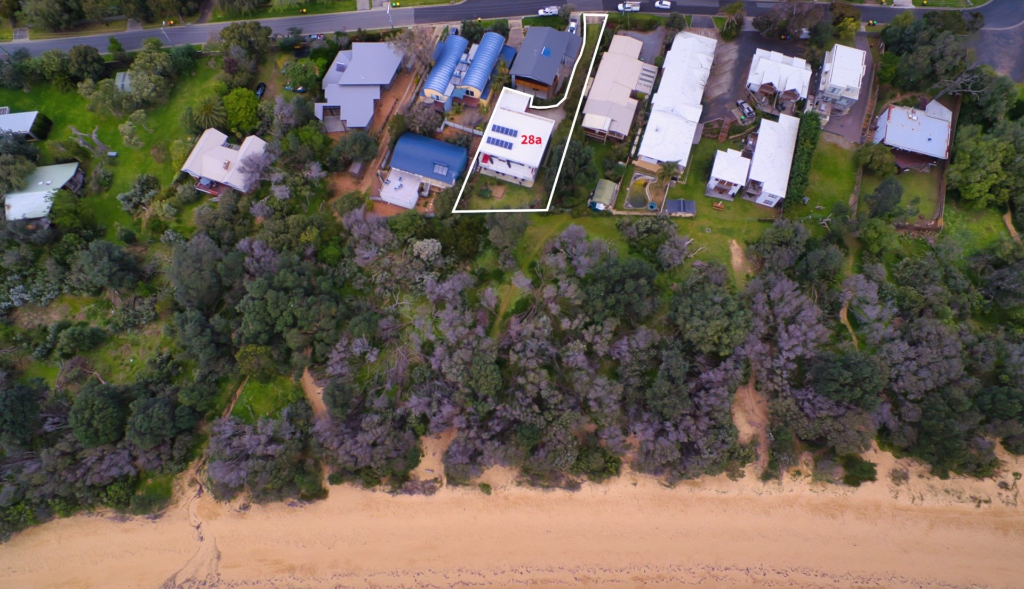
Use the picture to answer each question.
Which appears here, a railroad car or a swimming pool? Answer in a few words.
swimming pool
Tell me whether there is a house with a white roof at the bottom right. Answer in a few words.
No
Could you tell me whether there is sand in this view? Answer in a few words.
Yes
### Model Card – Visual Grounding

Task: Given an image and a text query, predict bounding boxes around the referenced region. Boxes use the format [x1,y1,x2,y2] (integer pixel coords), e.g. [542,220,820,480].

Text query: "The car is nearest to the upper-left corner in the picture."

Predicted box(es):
[253,83,268,99]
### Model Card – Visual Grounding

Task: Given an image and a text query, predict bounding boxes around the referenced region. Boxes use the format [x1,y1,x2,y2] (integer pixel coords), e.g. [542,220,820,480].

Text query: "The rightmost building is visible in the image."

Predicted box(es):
[874,99,952,174]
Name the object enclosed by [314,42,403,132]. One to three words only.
house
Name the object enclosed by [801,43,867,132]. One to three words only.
building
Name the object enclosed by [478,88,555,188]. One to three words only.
house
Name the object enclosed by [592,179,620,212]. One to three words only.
shed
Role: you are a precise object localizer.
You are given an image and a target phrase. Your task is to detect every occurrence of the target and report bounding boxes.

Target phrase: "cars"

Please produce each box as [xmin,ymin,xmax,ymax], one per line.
[618,1,641,12]
[568,16,578,34]
[253,83,268,99]
[800,28,810,42]
[537,5,559,16]
[735,100,758,117]
[654,0,672,10]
